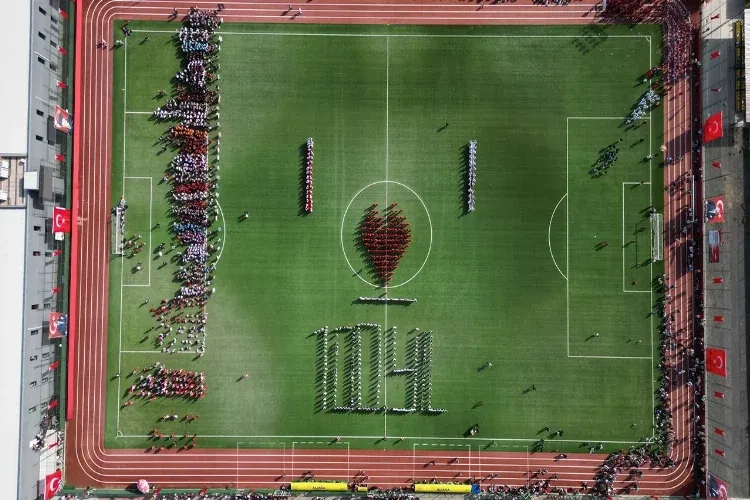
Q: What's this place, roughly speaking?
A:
sports ground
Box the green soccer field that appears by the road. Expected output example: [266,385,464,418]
[105,20,666,488]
